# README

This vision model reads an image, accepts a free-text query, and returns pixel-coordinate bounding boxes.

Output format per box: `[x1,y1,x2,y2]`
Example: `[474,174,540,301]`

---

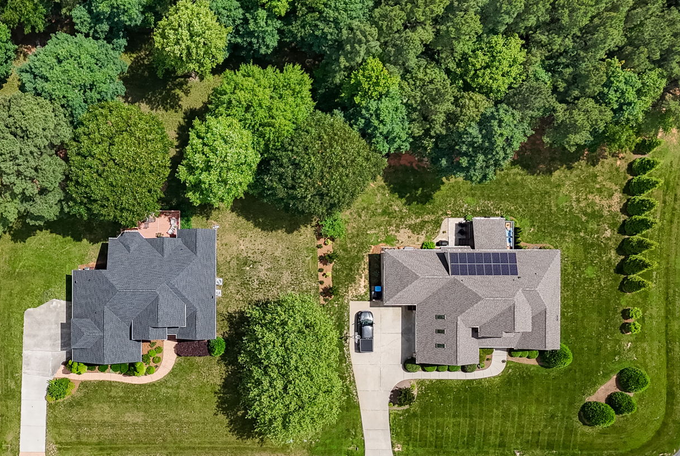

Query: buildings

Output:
[69,227,217,365]
[379,218,561,367]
